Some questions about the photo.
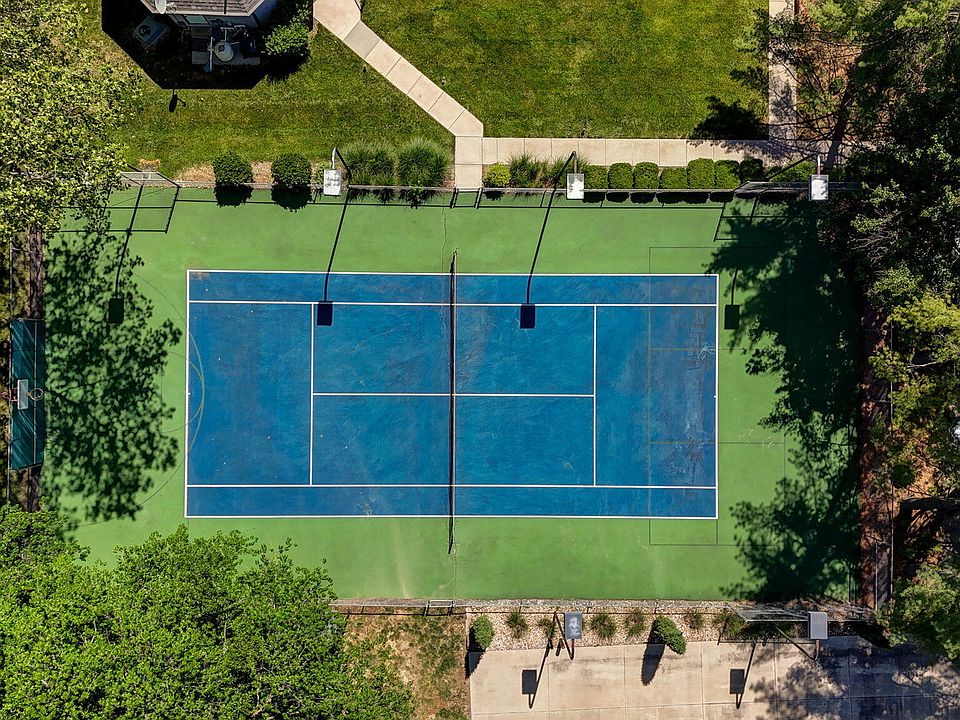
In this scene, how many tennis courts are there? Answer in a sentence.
I count just 1 tennis court.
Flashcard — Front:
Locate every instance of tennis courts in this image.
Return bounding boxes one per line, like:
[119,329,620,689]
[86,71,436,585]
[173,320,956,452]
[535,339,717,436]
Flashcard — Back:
[40,189,862,602]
